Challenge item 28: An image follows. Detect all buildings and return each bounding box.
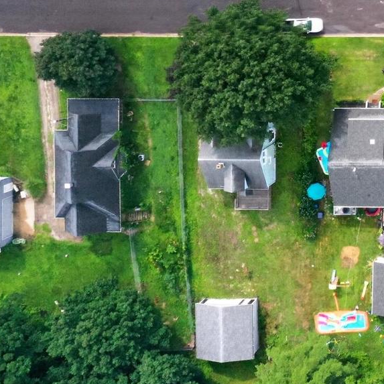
[329,107,384,209]
[195,299,259,363]
[0,177,15,252]
[371,259,384,316]
[53,98,128,237]
[197,125,276,192]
